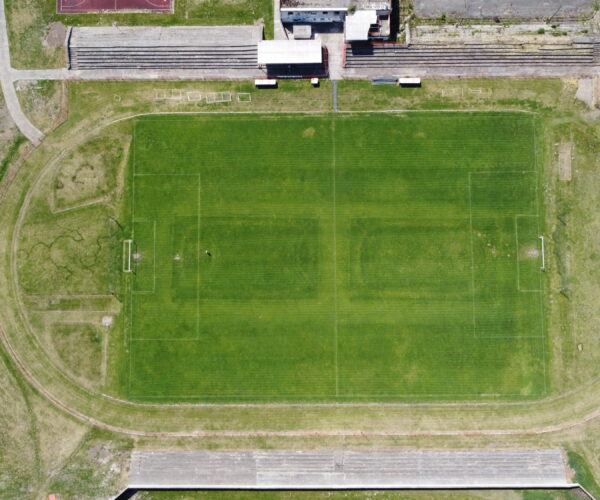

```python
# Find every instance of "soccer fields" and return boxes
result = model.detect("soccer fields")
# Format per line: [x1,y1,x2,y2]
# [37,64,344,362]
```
[126,111,550,404]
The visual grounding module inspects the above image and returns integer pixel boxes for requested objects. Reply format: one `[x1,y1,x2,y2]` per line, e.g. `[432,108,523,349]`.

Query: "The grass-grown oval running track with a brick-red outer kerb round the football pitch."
[0,82,600,436]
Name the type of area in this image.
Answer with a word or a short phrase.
sports ground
